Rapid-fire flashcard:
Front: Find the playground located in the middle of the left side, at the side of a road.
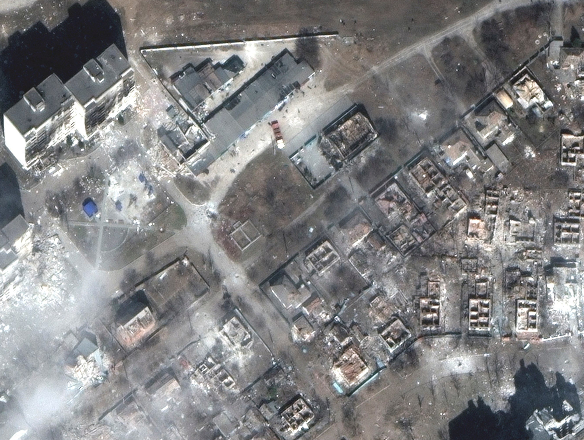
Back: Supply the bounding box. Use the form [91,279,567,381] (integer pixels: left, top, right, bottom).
[106,172,153,224]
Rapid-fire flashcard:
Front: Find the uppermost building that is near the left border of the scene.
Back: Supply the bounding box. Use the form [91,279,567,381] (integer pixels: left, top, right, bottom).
[4,42,137,169]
